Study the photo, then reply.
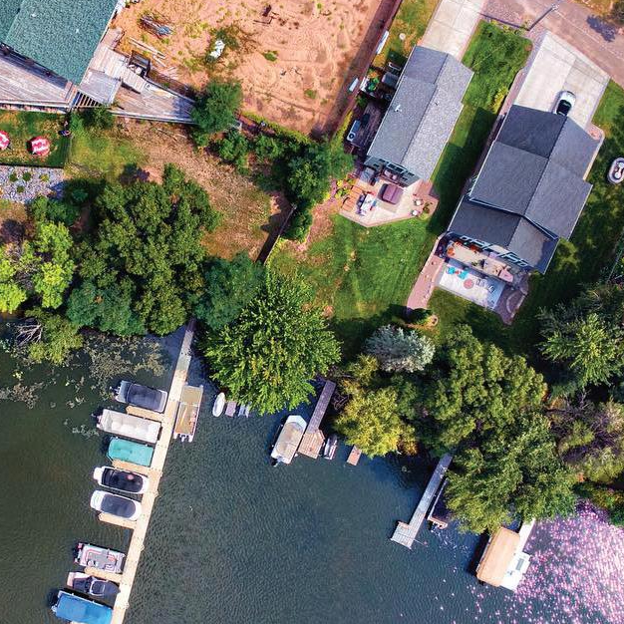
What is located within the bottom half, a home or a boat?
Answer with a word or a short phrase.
boat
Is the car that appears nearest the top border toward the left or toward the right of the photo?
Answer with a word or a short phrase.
right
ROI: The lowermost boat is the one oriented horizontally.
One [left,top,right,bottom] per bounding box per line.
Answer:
[54,595,114,624]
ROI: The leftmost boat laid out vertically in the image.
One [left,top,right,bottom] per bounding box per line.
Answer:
[175,385,204,440]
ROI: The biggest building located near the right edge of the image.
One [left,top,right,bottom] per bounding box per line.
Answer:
[448,105,605,274]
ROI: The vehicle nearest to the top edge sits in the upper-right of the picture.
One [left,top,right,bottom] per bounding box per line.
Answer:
[554,90,577,118]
